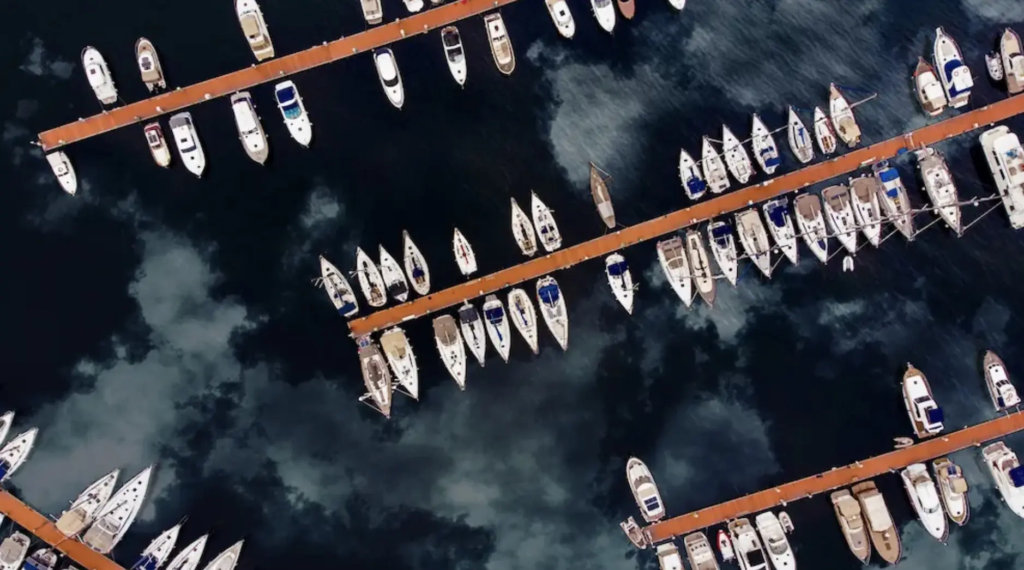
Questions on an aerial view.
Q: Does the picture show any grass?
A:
No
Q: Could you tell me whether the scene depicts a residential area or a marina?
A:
marina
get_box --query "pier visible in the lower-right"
[644,410,1024,543]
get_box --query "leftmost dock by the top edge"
[39,0,522,151]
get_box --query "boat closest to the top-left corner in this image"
[84,44,118,106]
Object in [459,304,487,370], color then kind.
white boat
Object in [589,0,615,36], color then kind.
white boat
